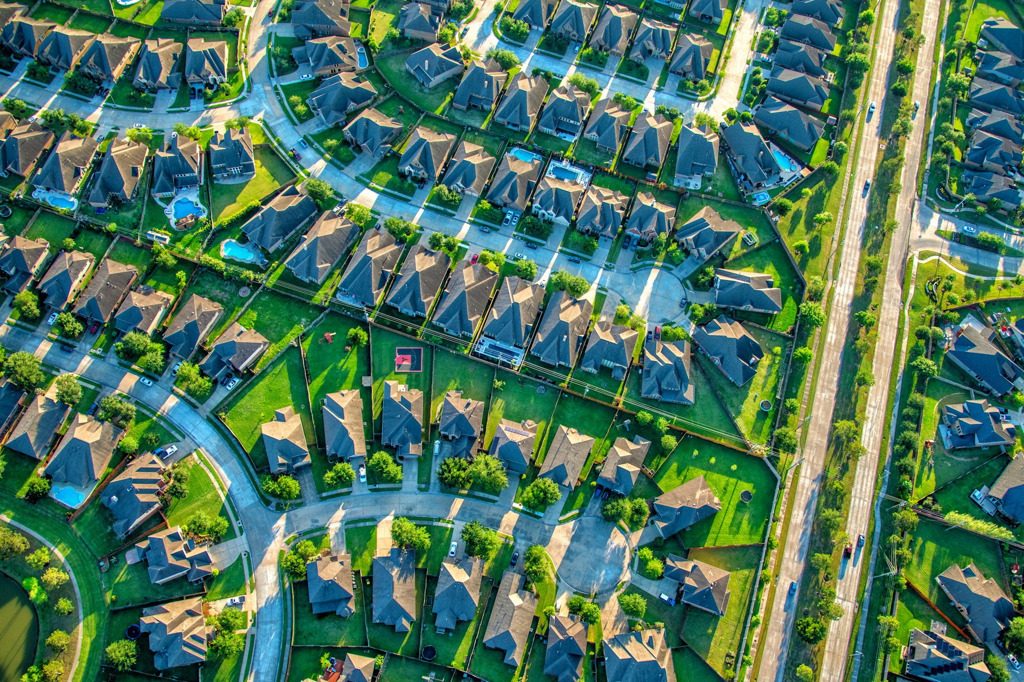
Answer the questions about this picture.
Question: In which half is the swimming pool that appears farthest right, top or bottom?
top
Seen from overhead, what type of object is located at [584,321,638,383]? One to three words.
house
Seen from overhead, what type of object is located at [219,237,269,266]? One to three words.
swimming pool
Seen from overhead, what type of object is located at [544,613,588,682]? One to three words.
house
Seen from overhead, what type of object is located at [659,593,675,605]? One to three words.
vehicle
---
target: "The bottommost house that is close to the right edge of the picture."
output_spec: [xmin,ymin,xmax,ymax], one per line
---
[908,622,991,682]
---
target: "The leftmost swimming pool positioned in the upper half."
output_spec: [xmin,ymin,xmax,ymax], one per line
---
[32,188,79,211]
